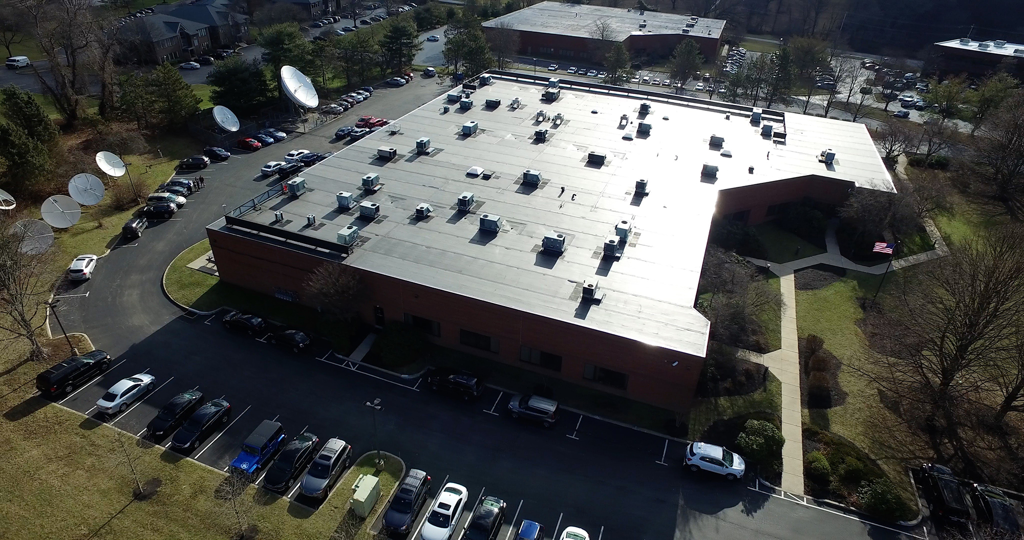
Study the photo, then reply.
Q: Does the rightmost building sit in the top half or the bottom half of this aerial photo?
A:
top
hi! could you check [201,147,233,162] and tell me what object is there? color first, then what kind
black car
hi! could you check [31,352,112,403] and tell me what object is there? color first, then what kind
black car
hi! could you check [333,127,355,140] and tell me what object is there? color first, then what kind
black vehicle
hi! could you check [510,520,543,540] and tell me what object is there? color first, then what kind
blue car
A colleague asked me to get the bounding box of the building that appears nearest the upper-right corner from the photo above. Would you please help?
[924,39,1024,87]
